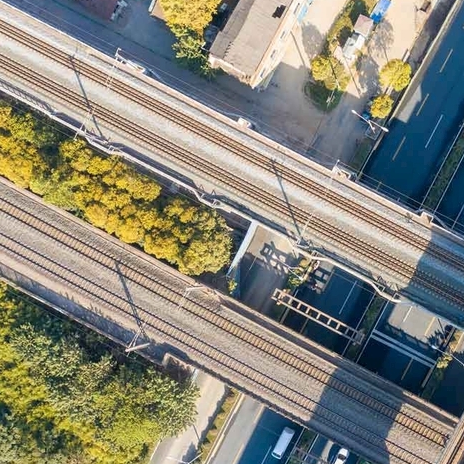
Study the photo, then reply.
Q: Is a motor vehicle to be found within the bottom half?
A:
Yes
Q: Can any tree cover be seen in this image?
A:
Yes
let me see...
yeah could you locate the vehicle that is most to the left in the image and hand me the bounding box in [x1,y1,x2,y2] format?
[270,427,296,461]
